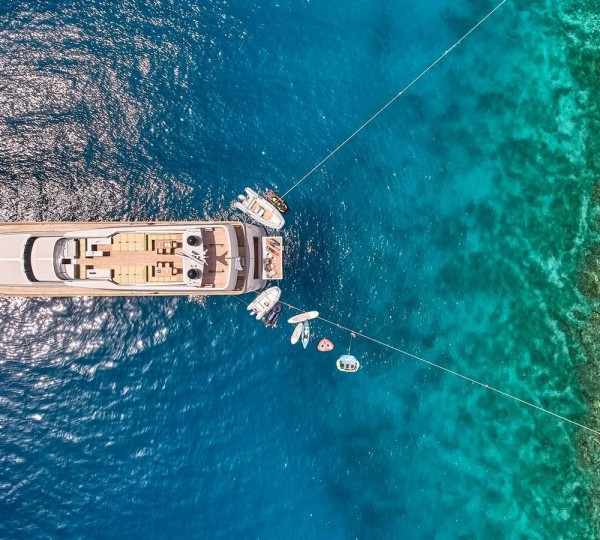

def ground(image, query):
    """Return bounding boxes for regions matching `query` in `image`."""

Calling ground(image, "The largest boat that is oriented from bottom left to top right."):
[247,286,279,319]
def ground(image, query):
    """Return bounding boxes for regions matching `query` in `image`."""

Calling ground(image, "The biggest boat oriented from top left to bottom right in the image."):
[236,187,284,230]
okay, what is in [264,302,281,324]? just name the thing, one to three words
boat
